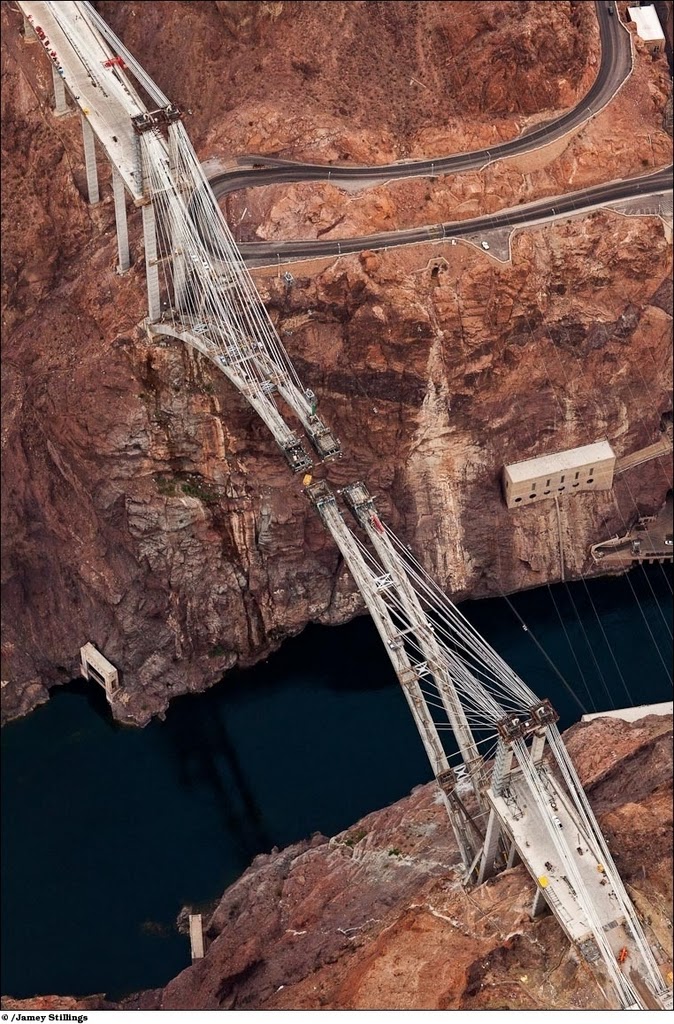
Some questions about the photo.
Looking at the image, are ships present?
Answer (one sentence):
No, the picture doesn't show any ship.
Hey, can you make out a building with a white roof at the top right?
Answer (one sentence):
Yes, a building with a white roof appears at the top right.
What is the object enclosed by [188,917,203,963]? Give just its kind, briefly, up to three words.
pier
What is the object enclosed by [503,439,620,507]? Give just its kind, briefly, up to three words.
building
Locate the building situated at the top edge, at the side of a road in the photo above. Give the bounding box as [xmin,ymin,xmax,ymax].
[625,4,666,56]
